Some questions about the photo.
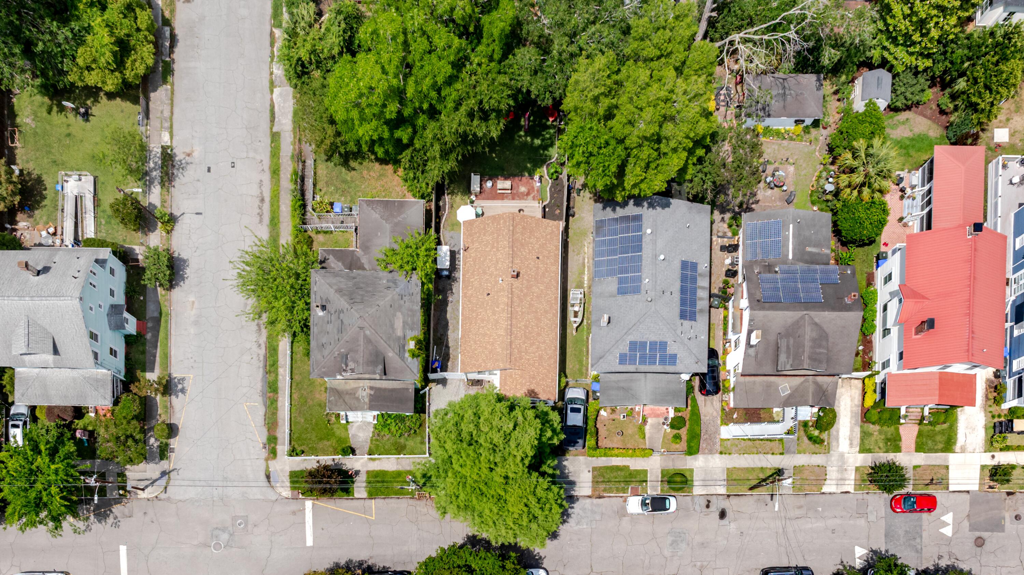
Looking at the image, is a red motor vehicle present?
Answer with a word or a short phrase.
Yes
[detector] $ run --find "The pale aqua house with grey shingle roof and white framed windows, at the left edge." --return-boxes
[0,247,146,423]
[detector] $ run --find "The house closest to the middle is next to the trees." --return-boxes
[458,212,562,413]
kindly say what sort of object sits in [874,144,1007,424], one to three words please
house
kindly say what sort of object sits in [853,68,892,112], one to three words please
shed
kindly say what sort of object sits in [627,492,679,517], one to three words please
car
